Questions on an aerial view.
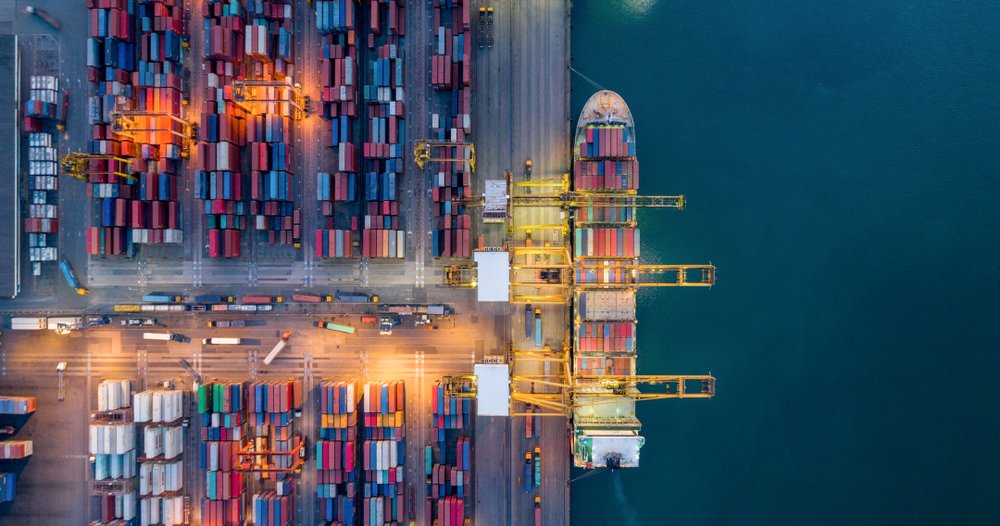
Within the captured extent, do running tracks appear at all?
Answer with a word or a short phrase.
No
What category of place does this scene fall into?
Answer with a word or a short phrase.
port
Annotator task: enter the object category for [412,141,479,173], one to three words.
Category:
crane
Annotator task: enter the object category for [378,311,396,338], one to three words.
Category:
work vehicle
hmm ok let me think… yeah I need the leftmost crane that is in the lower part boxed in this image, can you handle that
[228,433,305,471]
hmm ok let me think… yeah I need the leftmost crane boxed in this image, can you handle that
[57,153,142,185]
